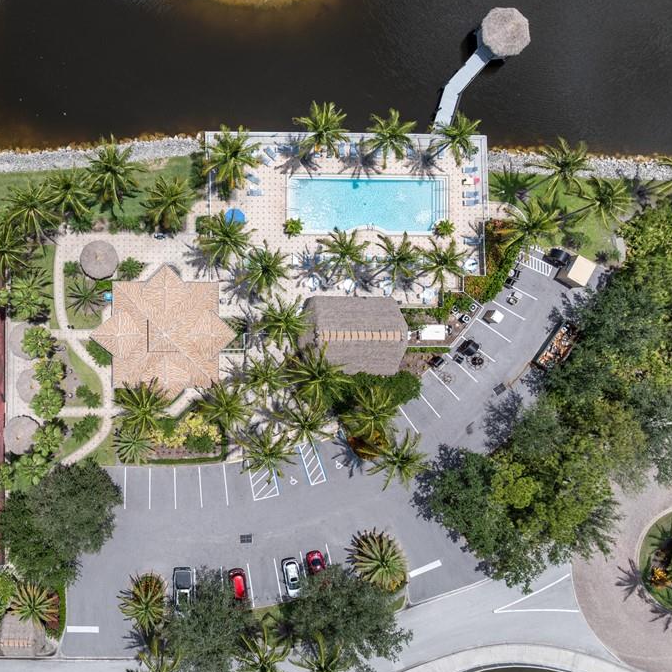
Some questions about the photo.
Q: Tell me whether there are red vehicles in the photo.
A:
Yes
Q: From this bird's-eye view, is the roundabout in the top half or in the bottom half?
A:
bottom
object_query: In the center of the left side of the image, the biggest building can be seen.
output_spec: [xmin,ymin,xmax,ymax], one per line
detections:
[90,264,237,402]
